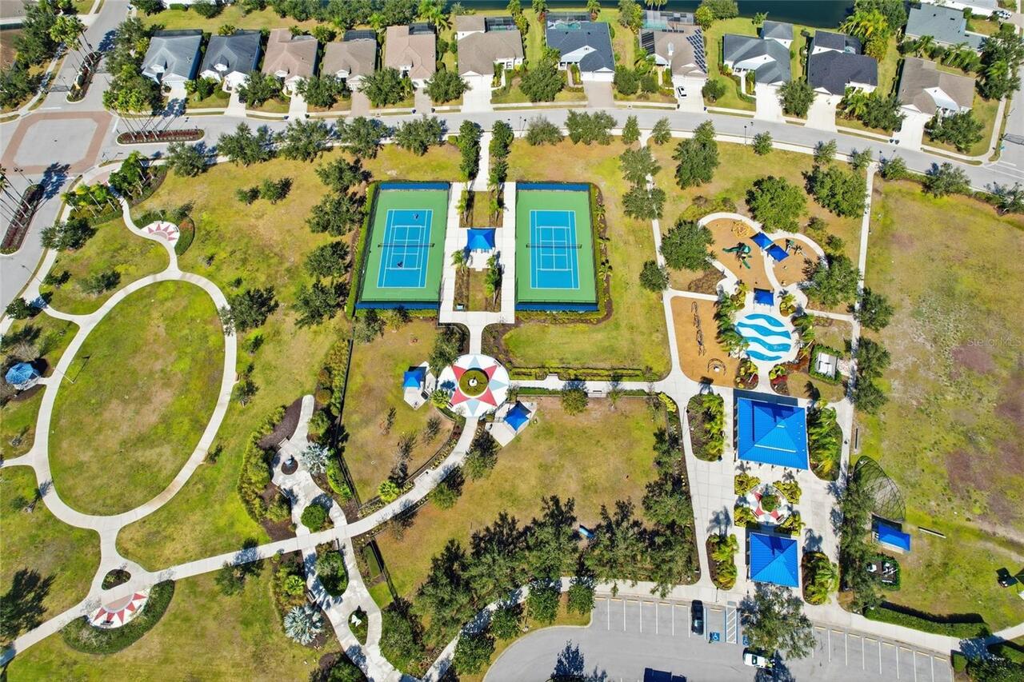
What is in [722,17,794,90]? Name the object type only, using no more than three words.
house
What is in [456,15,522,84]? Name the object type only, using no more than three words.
house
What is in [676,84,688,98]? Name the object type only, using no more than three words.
vehicle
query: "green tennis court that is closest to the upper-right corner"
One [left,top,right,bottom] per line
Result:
[516,190,598,295]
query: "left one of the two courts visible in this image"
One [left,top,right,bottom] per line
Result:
[363,190,448,298]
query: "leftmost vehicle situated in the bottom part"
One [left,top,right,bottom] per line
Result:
[690,602,705,634]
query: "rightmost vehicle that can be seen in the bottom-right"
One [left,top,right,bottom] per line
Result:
[741,651,778,670]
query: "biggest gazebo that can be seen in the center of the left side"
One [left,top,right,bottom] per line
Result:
[4,362,48,393]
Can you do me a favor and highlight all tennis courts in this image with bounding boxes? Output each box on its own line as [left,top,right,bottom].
[363,190,448,298]
[516,190,598,295]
